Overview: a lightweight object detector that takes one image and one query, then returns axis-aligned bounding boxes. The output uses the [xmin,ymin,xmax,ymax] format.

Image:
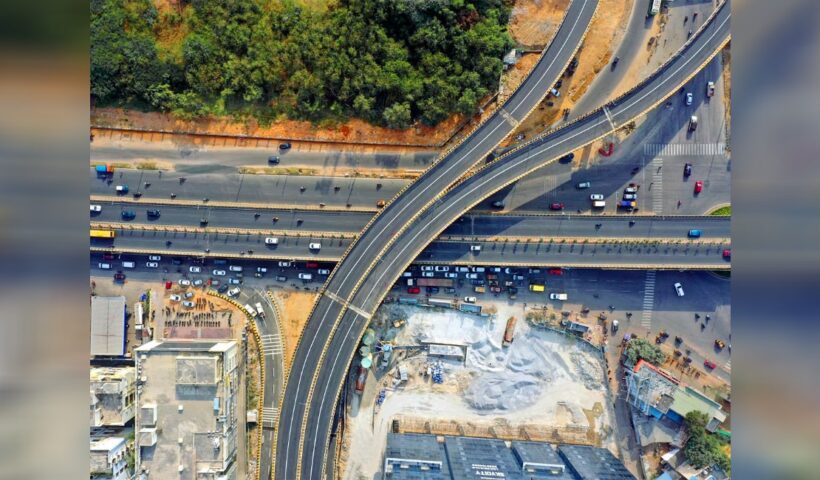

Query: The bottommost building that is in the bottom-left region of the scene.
[54,432,124,480]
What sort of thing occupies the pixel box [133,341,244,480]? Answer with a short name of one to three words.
building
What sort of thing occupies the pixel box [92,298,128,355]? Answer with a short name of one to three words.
shed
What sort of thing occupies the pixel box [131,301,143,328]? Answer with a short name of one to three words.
vehicle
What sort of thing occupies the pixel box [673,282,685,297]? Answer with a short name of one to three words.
vehicle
